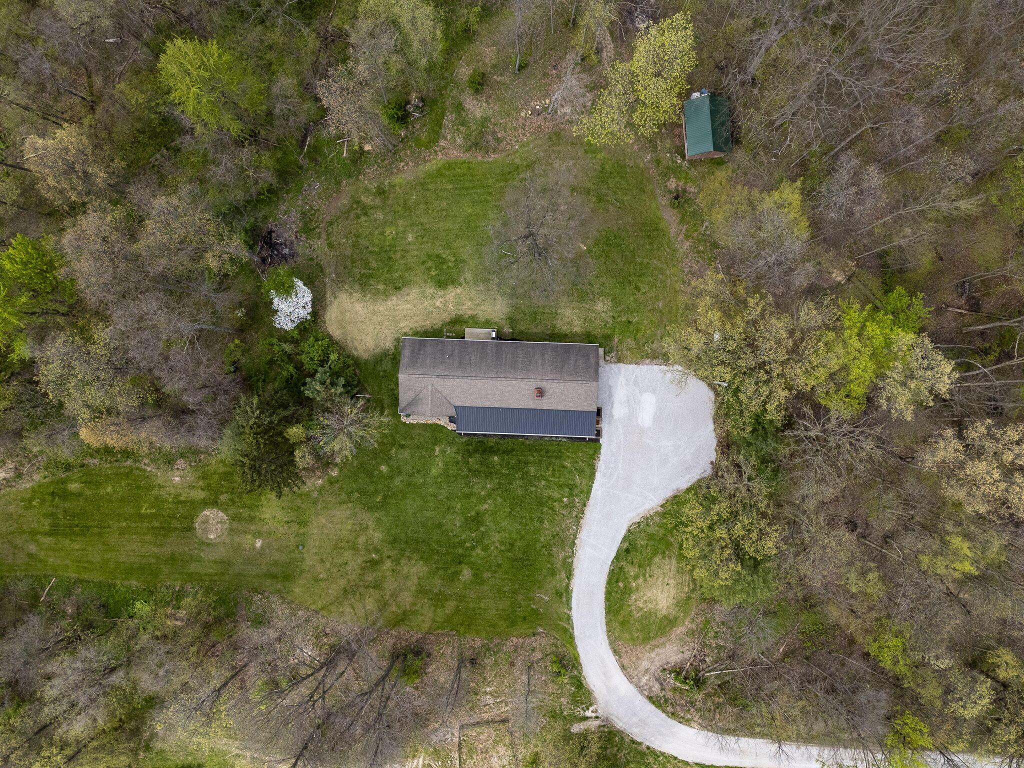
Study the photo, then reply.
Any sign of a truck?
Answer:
No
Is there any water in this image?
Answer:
No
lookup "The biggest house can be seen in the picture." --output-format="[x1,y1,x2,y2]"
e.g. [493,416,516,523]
[398,328,599,442]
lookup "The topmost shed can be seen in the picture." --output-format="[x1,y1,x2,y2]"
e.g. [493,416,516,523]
[679,94,731,163]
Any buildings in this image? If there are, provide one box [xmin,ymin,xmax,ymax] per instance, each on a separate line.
[398,328,599,442]
[679,94,731,163]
